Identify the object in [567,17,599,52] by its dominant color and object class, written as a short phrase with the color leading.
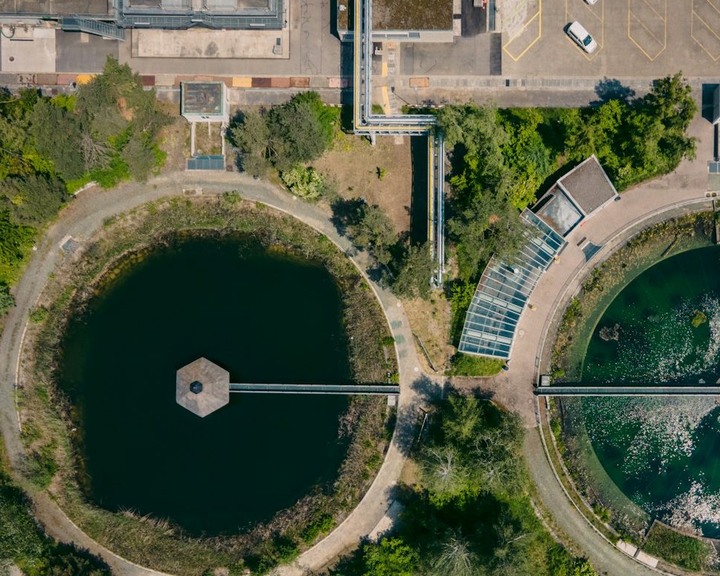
white car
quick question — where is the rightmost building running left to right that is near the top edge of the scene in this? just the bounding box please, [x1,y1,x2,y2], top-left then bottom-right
[337,0,461,57]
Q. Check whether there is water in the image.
Yes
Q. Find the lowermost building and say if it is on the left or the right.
left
